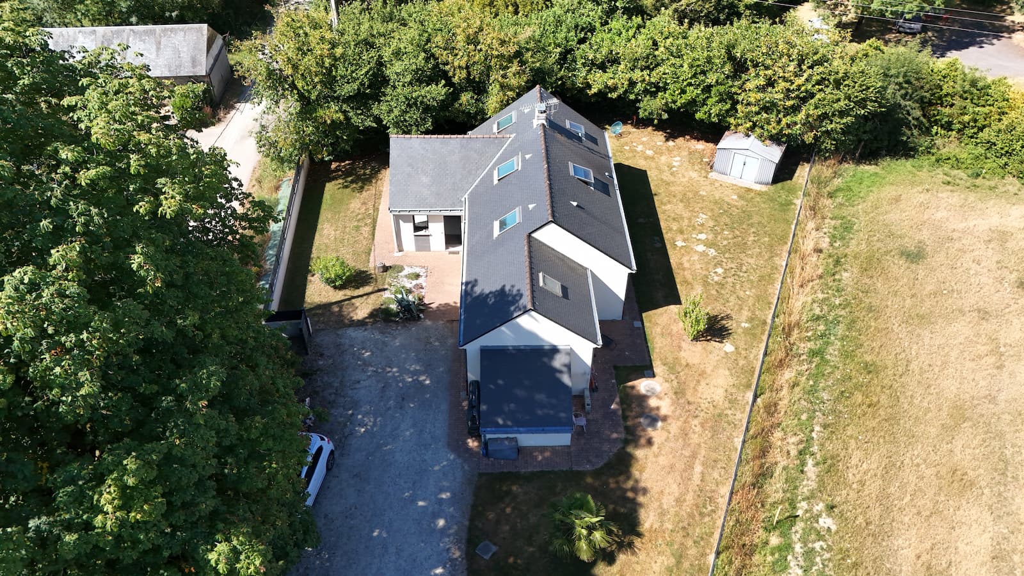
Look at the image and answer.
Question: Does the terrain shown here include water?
No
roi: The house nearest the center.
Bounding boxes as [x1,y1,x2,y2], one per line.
[388,86,640,448]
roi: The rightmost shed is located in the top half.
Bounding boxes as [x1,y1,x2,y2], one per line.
[709,125,785,190]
